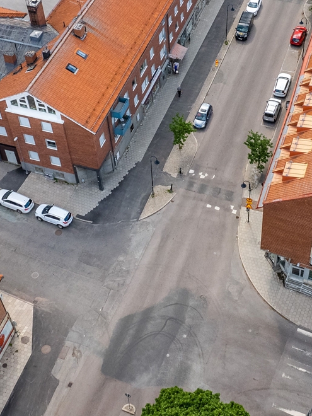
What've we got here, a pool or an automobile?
automobile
